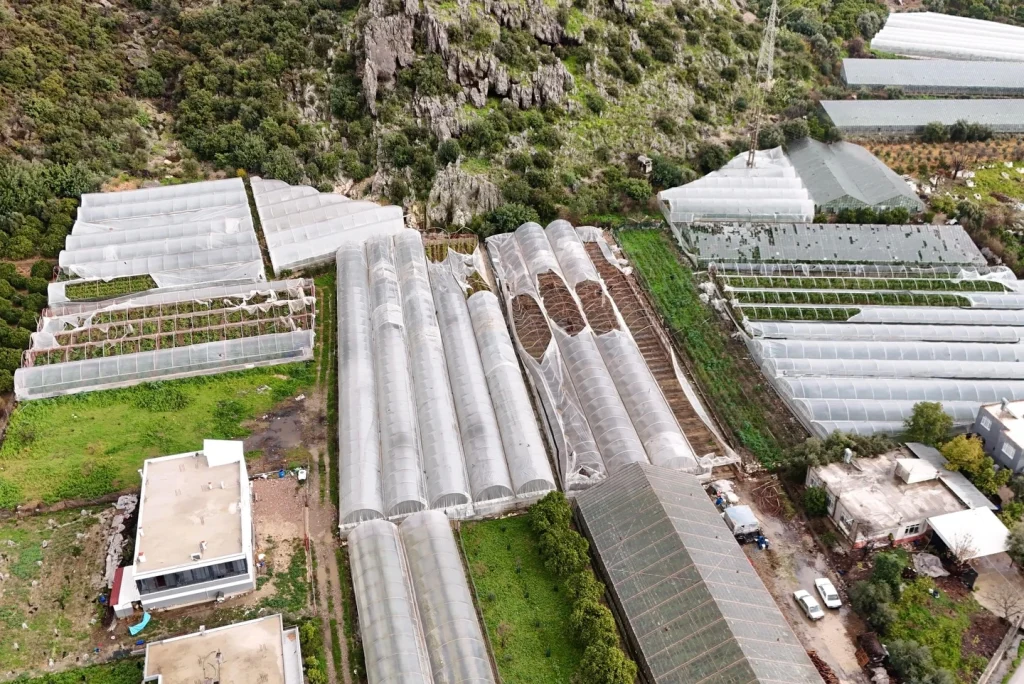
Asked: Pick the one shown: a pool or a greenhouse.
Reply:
greenhouse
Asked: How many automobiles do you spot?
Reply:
2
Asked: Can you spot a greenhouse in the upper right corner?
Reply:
Yes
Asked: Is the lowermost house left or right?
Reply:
left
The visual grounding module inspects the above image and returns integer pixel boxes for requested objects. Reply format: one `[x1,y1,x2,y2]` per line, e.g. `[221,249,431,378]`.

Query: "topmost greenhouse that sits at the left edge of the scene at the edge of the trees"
[49,179,267,316]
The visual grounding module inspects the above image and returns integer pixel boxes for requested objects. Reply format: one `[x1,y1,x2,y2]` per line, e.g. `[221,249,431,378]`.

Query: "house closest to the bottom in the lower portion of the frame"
[143,614,308,684]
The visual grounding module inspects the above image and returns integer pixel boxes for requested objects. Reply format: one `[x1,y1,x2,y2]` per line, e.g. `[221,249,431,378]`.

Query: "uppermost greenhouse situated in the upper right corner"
[871,10,1024,60]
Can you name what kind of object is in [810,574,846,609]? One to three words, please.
car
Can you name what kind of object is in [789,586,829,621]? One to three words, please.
car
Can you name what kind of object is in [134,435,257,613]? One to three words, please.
house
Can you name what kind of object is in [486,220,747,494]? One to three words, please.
greenhouse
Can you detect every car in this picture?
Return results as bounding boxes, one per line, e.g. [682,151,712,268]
[789,586,829,621]
[810,574,846,609]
